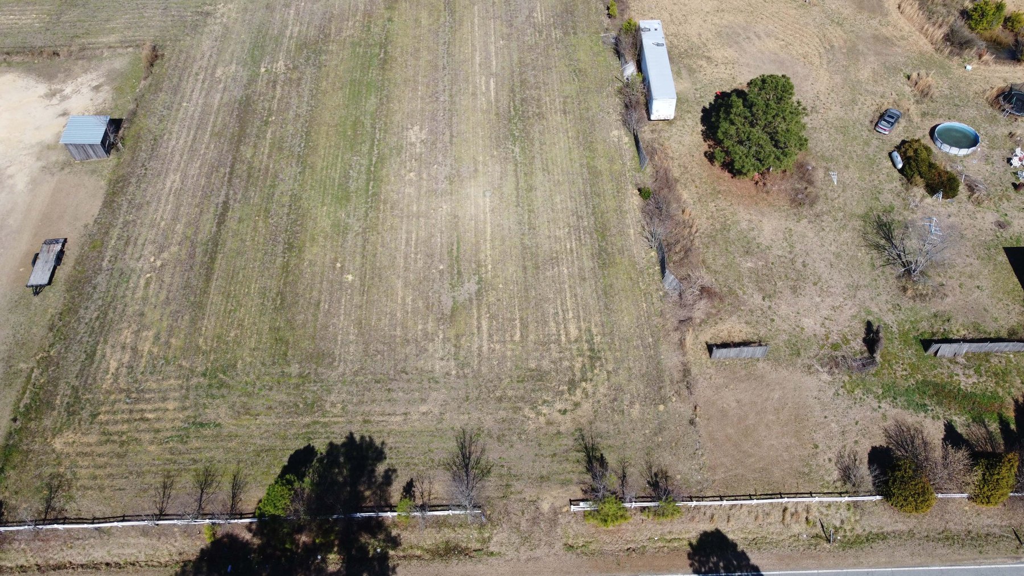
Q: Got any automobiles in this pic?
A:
Yes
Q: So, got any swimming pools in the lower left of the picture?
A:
No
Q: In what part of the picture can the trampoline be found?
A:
top right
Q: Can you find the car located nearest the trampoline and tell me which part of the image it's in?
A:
top right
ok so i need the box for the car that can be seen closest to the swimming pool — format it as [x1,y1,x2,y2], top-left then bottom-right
[873,109,901,138]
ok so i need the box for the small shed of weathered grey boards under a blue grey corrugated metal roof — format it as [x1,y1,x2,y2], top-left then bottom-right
[60,114,117,162]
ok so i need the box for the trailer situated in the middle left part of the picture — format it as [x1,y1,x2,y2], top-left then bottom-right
[25,237,67,299]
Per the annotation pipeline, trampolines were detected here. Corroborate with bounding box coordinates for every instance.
[1003,77,1024,119]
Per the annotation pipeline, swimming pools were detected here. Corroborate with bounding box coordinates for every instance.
[931,124,977,160]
